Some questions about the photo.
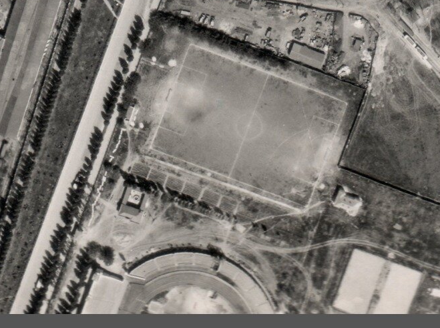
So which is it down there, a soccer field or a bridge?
soccer field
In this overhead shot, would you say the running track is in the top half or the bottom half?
bottom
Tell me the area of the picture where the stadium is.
bottom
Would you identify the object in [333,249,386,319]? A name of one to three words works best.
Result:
sports court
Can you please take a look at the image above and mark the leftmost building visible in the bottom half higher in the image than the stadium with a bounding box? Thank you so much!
[119,185,145,216]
